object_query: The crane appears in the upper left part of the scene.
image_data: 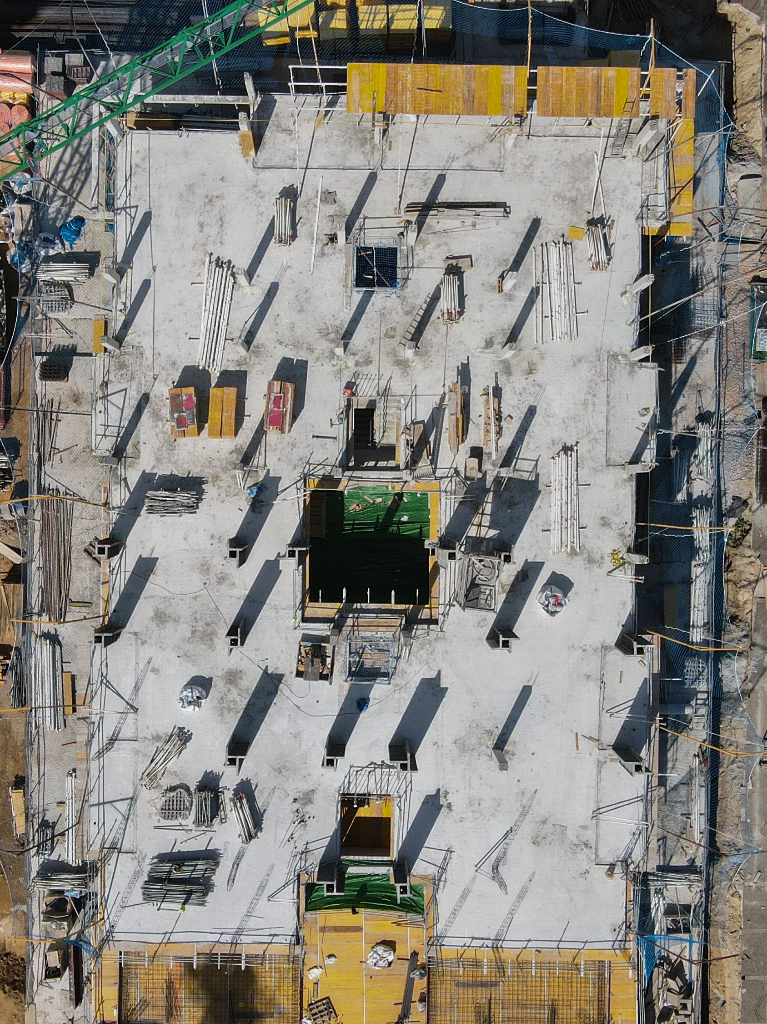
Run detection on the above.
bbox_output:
[0,0,321,183]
